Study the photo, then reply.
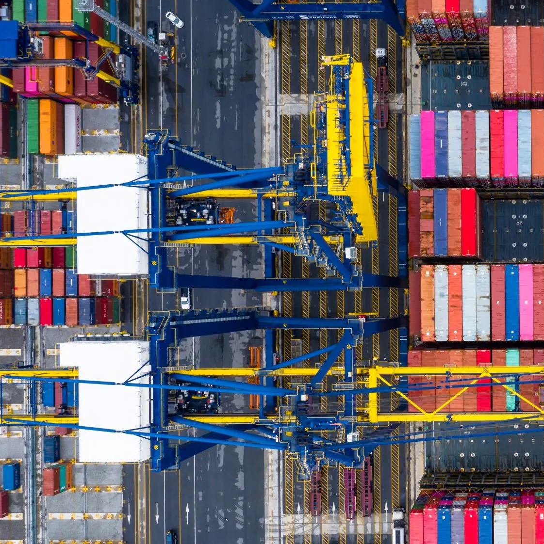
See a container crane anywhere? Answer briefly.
Yes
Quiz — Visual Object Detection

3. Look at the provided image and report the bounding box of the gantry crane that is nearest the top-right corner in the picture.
[218,0,407,71]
